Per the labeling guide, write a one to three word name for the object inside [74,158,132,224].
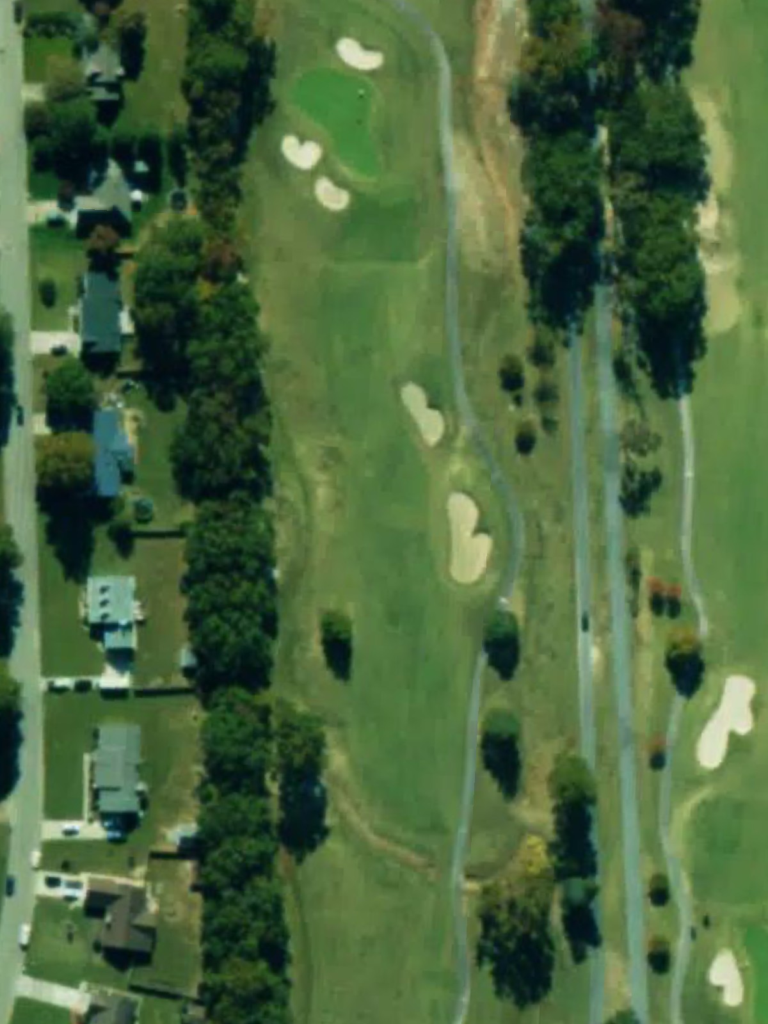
house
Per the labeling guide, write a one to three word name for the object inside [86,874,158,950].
house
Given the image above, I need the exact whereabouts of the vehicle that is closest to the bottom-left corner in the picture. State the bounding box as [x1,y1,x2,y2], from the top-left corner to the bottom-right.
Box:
[18,923,30,948]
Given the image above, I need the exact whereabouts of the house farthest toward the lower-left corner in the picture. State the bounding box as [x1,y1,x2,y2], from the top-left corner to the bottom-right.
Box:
[86,990,144,1024]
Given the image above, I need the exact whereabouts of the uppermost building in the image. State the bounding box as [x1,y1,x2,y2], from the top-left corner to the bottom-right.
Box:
[83,37,122,100]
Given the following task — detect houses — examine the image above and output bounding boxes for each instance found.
[86,874,158,950]
[83,37,122,100]
[94,724,148,812]
[86,990,144,1024]
[74,158,132,224]
[81,270,133,352]
[88,576,145,648]
[94,410,133,495]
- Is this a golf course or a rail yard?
golf course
